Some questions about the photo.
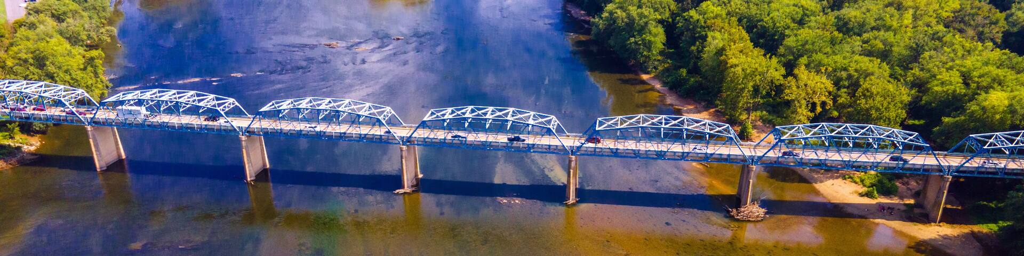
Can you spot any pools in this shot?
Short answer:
No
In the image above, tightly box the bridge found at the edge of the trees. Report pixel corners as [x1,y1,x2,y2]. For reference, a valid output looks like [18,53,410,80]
[0,81,1024,226]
